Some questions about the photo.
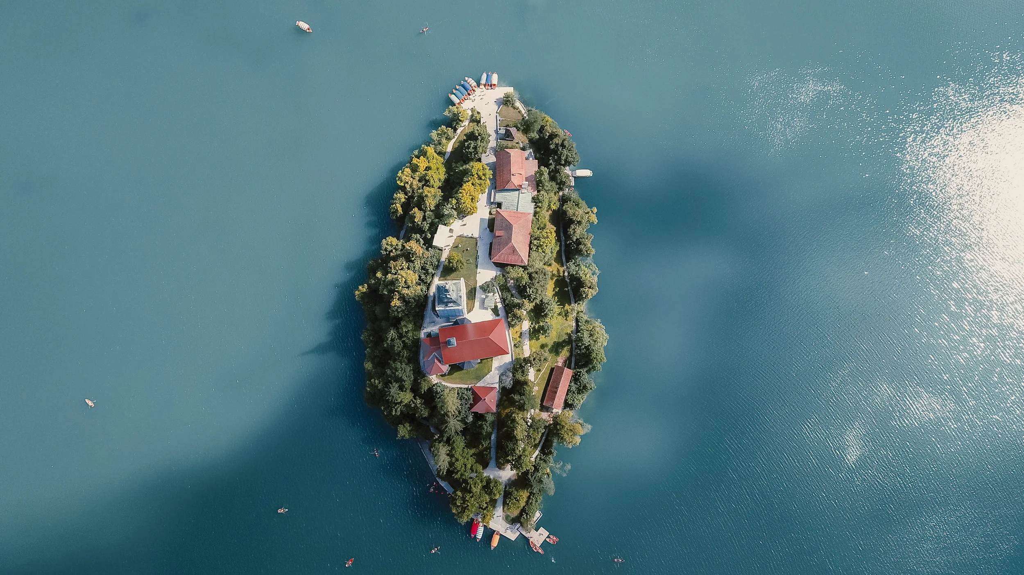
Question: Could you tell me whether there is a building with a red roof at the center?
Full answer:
Yes, a building with a red roof can be seen at the center.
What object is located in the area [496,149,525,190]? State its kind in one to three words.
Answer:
house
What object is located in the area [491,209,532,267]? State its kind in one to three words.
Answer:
house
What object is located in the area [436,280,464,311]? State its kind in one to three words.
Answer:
building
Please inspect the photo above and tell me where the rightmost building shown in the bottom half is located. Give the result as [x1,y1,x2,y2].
[544,366,573,410]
